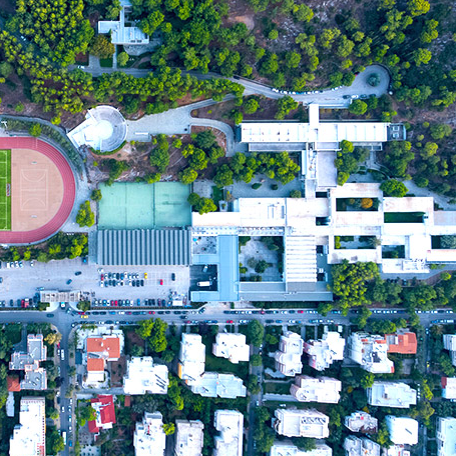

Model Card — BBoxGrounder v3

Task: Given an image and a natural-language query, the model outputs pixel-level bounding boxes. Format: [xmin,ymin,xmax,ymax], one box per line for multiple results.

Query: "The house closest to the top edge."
[98,0,149,46]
